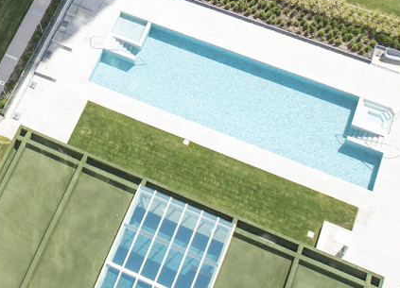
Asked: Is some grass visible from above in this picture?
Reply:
Yes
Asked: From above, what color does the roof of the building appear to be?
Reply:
green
